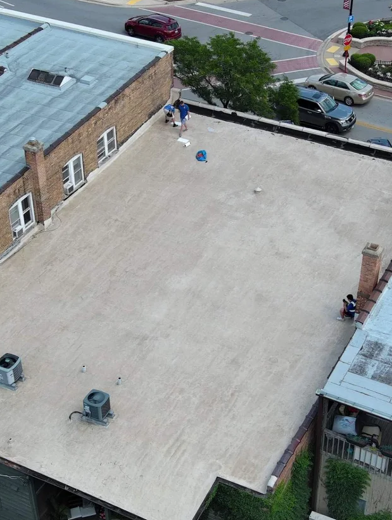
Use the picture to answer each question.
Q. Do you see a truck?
No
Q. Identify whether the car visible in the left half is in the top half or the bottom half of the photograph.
top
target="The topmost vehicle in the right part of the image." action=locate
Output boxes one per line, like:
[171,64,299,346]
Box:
[306,69,374,105]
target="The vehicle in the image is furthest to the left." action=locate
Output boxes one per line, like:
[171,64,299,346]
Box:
[120,10,181,40]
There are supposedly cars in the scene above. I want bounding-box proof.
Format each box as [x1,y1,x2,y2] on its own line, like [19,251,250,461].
[277,83,360,133]
[120,10,181,40]
[354,130,392,145]
[306,69,374,105]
